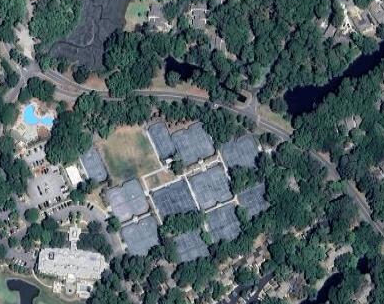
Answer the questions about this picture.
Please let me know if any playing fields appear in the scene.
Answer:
Yes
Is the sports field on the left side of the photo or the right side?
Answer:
left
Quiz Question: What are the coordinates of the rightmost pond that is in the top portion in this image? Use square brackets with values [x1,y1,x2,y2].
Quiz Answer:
[286,42,384,113]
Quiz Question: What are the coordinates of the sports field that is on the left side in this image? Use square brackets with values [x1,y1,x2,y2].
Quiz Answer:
[103,125,162,185]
